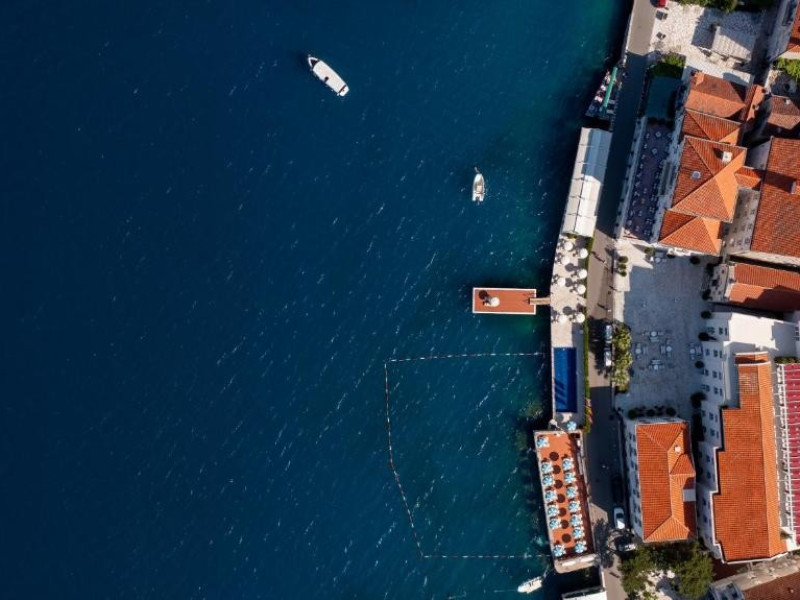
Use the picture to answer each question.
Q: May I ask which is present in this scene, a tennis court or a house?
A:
house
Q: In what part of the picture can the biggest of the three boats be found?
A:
top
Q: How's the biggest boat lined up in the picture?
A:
on a diagonal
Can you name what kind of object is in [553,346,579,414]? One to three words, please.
swimming pool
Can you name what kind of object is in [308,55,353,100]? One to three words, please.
boat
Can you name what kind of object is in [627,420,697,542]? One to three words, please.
house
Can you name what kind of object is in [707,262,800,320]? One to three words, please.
house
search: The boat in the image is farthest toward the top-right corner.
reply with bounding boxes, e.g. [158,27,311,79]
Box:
[473,166,485,203]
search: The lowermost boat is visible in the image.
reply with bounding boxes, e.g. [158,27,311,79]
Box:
[517,573,544,591]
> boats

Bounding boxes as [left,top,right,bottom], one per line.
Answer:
[308,55,353,100]
[473,166,485,203]
[517,573,544,591]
